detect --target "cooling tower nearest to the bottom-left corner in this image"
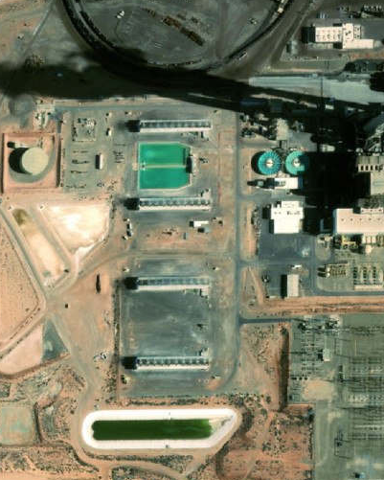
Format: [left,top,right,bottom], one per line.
[134,357,210,370]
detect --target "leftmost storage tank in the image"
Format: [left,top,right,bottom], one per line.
[19,147,48,176]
